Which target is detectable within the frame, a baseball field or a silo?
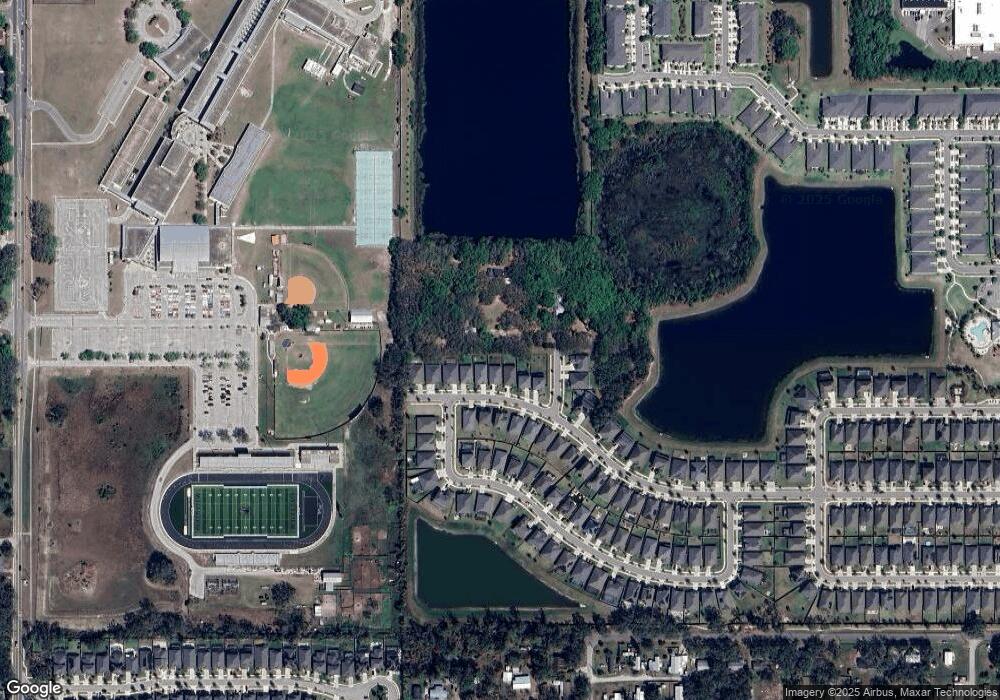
baseball field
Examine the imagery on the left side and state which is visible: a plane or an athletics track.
athletics track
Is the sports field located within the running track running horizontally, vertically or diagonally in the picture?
horizontally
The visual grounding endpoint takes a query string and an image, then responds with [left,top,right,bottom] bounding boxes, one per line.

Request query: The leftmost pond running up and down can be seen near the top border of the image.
[798,0,833,78]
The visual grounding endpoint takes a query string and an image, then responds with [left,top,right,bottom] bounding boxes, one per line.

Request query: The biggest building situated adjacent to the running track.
[300,447,338,466]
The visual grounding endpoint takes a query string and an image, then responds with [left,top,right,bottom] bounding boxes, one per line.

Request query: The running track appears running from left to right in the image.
[160,472,333,549]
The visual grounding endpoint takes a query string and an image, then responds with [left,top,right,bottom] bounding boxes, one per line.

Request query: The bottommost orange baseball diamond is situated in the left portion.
[282,339,327,387]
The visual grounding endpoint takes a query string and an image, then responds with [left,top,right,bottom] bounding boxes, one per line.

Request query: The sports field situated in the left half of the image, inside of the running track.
[192,485,299,538]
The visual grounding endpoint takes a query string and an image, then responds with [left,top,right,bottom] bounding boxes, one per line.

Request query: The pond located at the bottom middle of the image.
[416,516,578,607]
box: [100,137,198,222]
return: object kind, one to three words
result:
building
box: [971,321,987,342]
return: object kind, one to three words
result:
swimming pool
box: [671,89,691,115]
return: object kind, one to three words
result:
house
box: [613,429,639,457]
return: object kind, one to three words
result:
house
